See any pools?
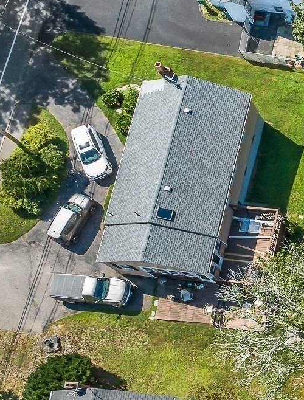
No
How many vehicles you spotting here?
three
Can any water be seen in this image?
No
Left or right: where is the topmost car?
left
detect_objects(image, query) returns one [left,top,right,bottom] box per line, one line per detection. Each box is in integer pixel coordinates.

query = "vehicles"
[72,126,115,182]
[52,274,131,305]
[45,192,102,247]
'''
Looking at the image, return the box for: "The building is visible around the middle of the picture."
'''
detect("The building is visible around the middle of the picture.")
[96,56,264,285]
